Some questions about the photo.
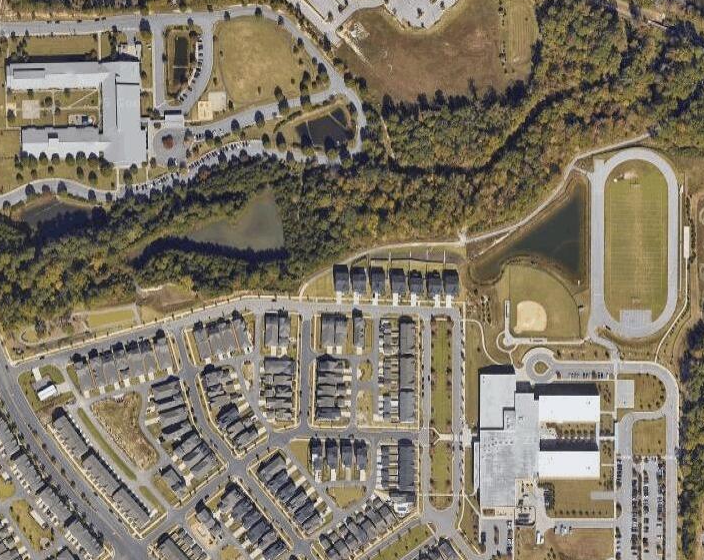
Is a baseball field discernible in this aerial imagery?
Yes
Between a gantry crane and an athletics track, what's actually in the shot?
athletics track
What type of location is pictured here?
residential area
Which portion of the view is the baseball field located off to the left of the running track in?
right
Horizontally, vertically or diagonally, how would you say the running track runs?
vertically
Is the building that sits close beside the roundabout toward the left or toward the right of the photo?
right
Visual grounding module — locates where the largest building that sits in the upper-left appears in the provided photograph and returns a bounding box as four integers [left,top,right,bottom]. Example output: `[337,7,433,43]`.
[7,62,144,167]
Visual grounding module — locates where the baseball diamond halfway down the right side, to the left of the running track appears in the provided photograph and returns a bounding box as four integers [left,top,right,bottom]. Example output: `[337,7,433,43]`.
[510,263,581,338]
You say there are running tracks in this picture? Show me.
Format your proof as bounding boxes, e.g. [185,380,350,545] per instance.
[590,148,679,337]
